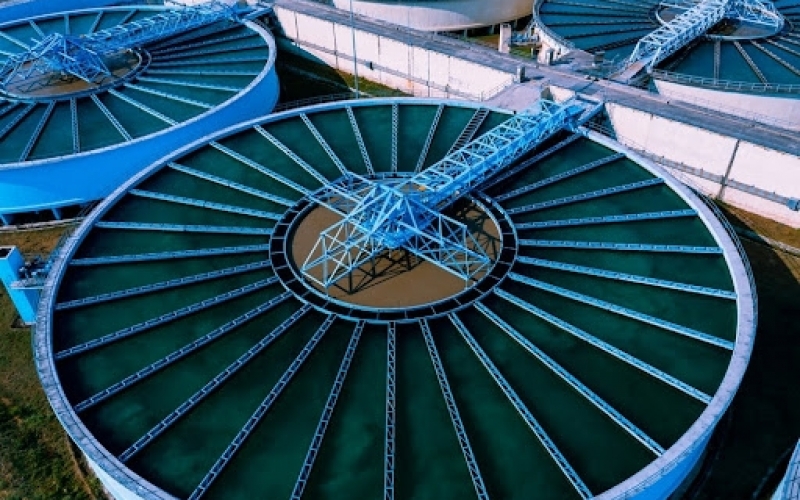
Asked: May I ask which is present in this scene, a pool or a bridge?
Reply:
bridge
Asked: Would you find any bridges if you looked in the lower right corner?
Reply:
No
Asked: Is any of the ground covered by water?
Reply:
Yes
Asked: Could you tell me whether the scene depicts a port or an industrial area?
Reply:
industrial area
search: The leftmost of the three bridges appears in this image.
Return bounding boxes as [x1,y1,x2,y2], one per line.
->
[68,0,244,63]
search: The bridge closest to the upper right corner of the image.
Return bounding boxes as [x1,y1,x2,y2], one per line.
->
[632,0,738,73]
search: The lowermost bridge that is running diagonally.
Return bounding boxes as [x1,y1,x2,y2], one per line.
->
[389,94,578,228]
